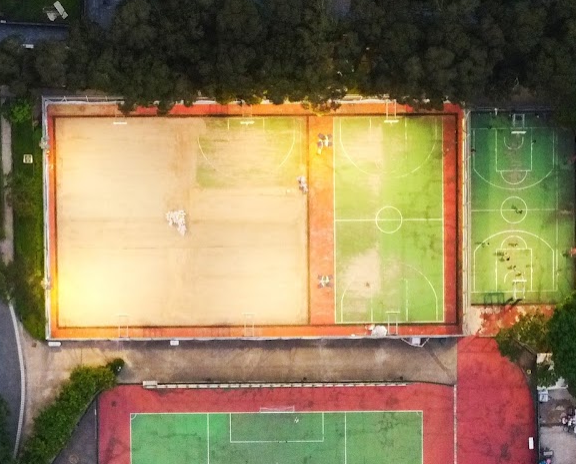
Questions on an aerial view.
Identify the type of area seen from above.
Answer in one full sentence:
This image shows a sports ground.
